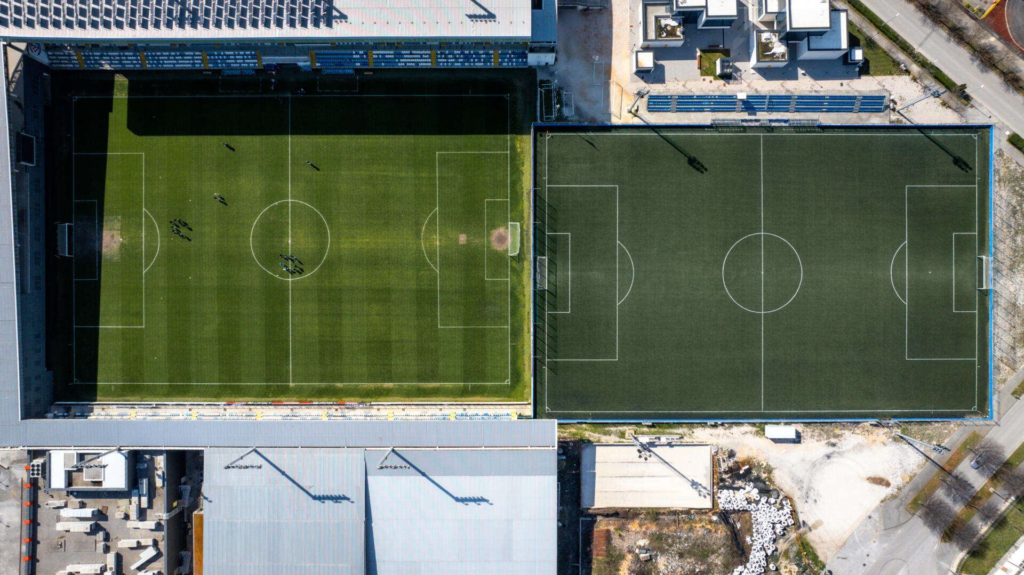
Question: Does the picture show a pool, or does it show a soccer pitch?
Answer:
soccer pitch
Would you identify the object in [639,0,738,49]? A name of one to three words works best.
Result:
building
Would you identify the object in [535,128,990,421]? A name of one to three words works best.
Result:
soccer field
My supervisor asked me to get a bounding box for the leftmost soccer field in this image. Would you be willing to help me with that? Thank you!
[45,65,532,419]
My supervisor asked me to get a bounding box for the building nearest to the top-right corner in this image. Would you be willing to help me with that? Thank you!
[750,0,864,73]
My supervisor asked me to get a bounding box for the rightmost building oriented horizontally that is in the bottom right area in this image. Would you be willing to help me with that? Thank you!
[762,424,795,438]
